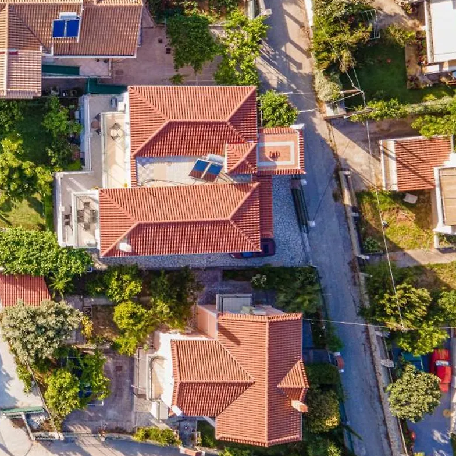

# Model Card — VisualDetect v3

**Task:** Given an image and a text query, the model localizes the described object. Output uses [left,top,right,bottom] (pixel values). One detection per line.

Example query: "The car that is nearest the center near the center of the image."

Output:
[226,239,276,264]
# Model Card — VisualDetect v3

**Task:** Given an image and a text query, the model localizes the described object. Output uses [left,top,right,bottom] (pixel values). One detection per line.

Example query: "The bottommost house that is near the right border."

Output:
[364,134,456,249]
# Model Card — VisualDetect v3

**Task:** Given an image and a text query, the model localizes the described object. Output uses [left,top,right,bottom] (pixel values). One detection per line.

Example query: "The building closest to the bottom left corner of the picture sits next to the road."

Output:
[139,289,310,447]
